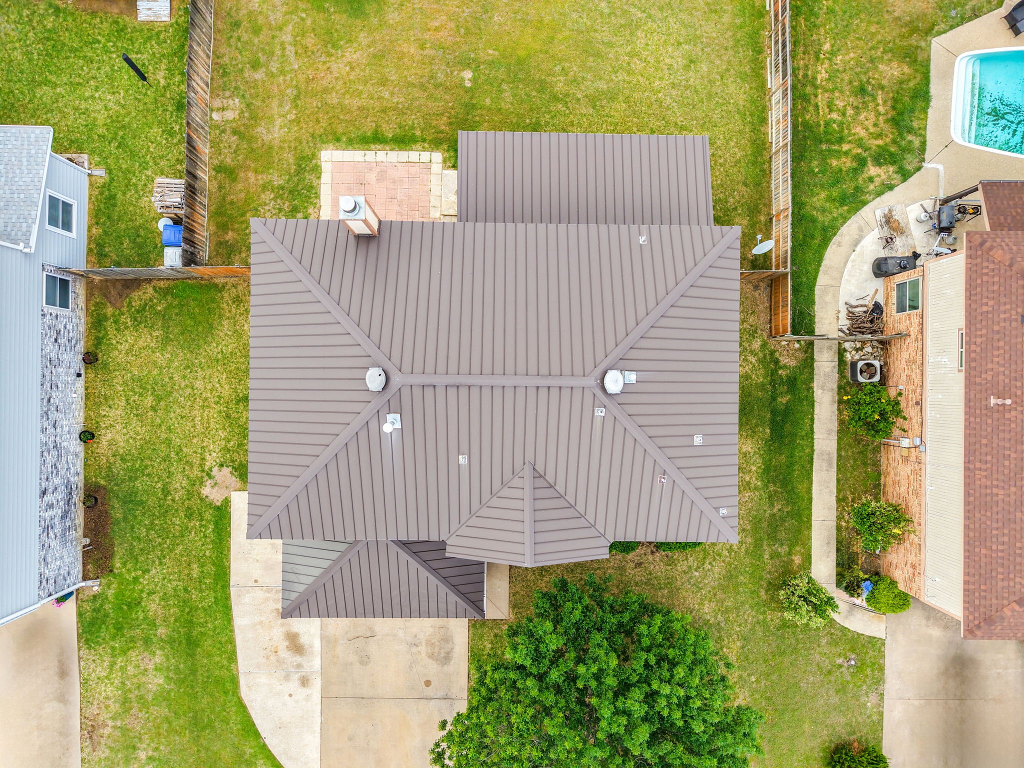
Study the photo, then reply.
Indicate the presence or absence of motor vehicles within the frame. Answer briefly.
No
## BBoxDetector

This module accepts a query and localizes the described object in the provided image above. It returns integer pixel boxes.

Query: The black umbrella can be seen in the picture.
[121,51,153,87]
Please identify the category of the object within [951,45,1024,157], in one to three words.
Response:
swimming pool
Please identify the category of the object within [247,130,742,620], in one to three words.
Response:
house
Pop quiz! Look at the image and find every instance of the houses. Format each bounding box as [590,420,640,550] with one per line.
[880,178,1024,640]
[0,124,94,626]
[247,130,742,620]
